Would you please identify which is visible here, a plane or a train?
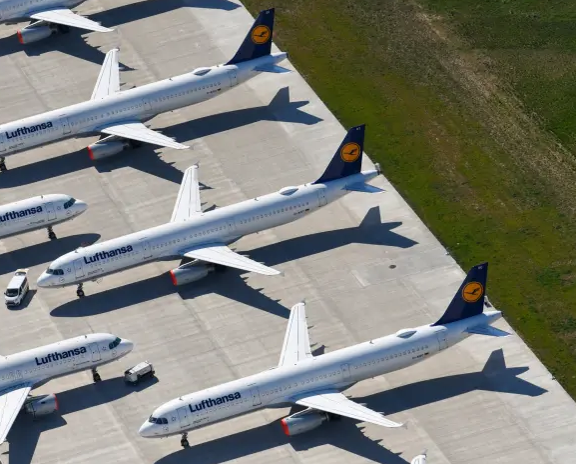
plane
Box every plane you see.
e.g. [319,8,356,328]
[140,263,512,446]
[0,8,295,170]
[0,0,119,44]
[0,334,133,445]
[36,125,387,296]
[0,193,88,241]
